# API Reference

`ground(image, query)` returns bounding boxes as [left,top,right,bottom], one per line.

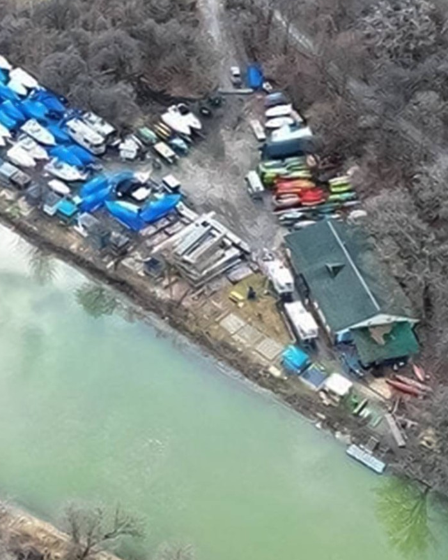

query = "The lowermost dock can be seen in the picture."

[345,444,387,475]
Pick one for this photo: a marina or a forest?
marina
